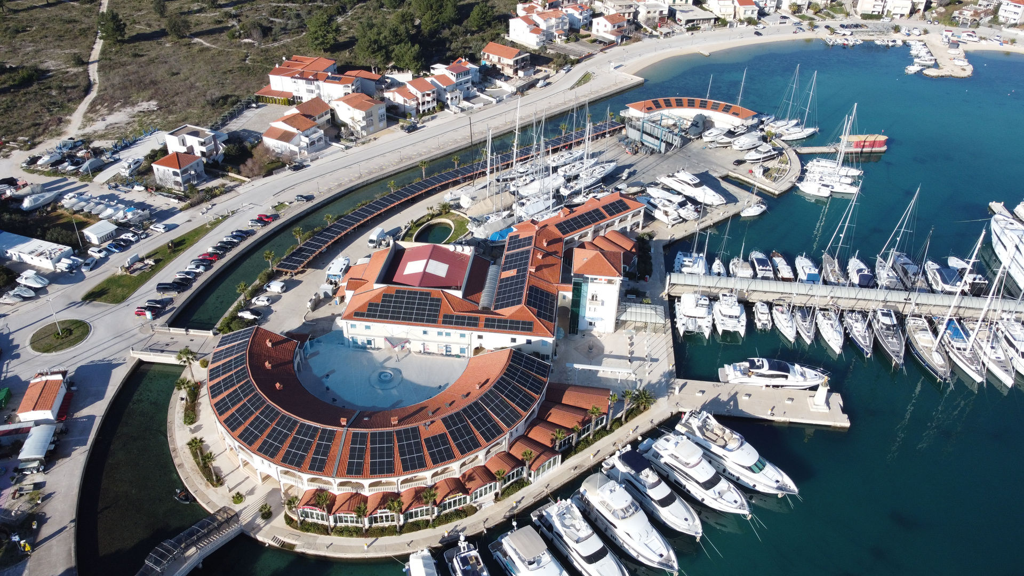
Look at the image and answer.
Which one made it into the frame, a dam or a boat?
boat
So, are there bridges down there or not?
Yes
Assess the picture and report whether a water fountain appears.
Yes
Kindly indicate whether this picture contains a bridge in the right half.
No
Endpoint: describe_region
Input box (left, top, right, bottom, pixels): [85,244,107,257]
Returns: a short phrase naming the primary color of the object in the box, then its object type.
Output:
white vehicle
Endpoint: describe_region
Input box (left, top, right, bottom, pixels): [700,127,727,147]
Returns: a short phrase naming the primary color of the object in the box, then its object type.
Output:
white boat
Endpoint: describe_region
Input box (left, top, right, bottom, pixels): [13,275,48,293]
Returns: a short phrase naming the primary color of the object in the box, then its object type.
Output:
white boat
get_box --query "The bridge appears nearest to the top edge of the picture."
[126,323,222,366]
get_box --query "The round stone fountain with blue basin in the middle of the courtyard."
[366,364,405,389]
